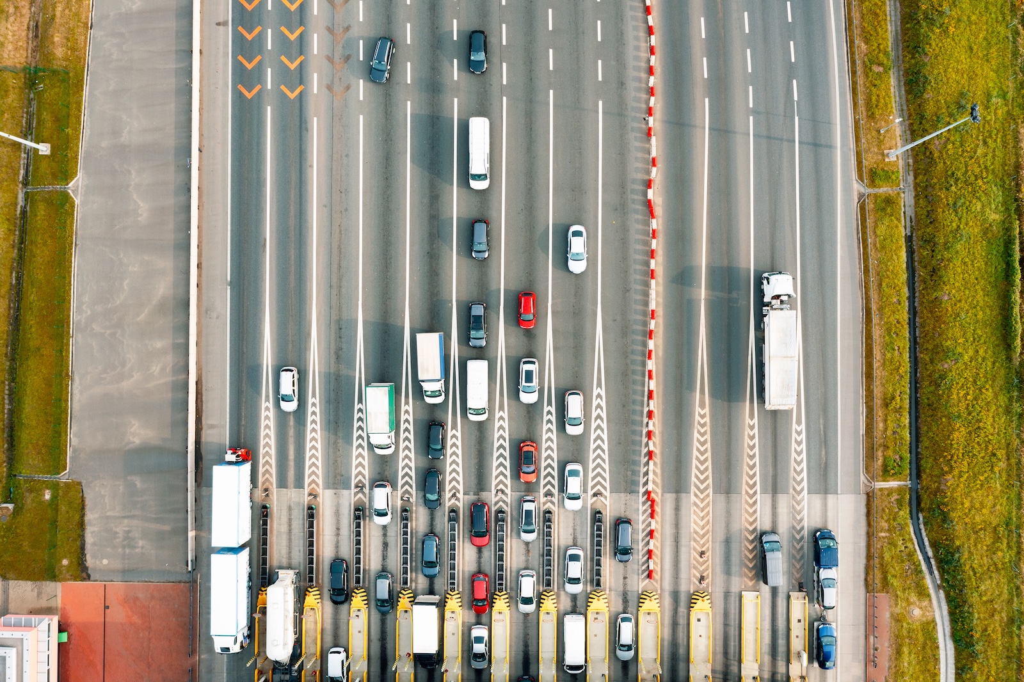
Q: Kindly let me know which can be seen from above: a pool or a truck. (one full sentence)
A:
I can see a truck in this picture.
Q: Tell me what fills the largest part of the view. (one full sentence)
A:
The bulk of the photo consists of paved ground.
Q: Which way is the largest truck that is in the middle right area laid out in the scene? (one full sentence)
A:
From this overhead view, the largest truck that is in the middle right area appears to run vertically.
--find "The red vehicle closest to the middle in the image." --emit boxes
[516,291,536,329]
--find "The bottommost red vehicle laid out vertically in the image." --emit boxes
[469,572,489,613]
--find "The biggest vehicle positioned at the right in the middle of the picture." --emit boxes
[757,272,796,410]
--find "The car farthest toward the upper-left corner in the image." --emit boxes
[369,35,397,84]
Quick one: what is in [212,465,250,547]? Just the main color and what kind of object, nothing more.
white trailer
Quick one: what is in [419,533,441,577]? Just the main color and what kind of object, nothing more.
blue car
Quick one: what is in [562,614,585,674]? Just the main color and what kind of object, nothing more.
white vehicle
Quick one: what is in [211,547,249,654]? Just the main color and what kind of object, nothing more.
white truck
